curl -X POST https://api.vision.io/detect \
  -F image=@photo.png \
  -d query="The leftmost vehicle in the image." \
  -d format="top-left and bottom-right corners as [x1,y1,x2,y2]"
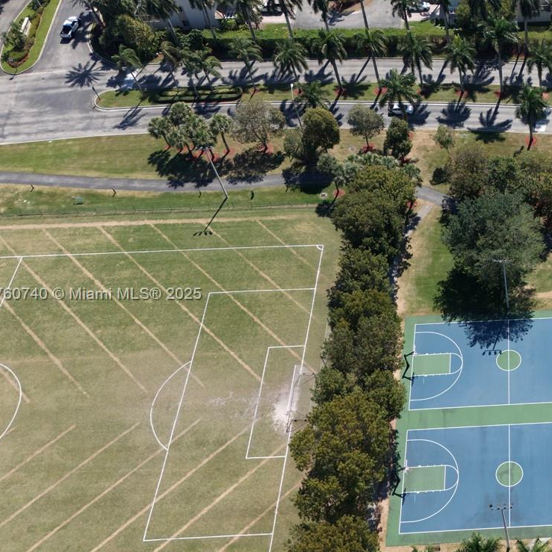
[58,19,77,36]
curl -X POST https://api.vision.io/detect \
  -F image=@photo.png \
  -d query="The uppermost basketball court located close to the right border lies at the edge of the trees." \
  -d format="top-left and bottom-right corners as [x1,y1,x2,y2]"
[397,308,552,421]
